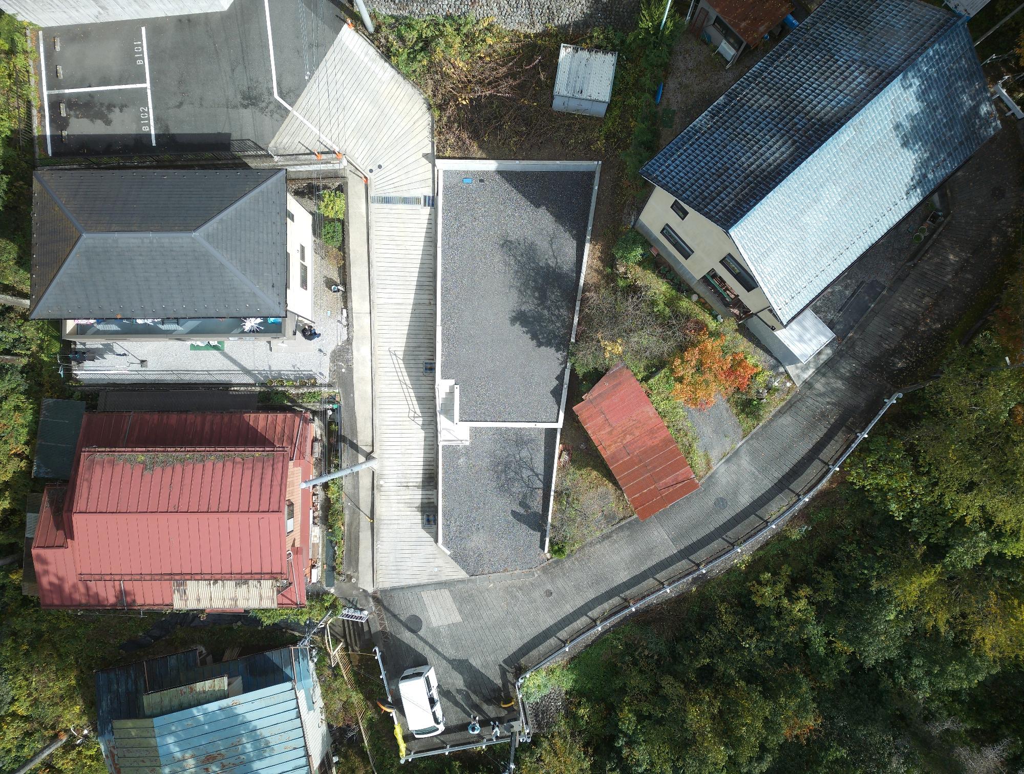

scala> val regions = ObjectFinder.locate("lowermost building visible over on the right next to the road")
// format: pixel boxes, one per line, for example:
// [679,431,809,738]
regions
[572,361,701,521]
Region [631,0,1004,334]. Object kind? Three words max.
house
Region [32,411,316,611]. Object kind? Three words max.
house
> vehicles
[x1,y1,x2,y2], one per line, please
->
[403,671,445,743]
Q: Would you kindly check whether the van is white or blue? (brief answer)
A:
white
